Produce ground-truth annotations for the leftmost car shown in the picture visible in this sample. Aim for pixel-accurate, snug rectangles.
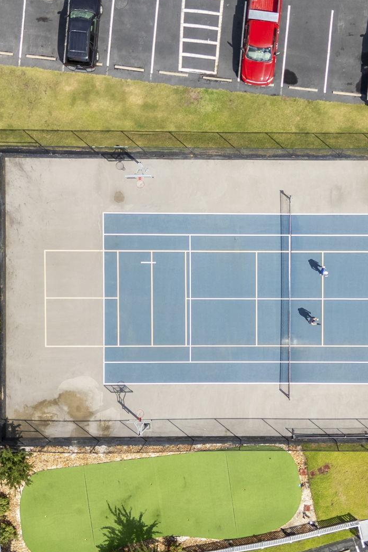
[63,0,104,72]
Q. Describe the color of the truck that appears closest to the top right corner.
red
